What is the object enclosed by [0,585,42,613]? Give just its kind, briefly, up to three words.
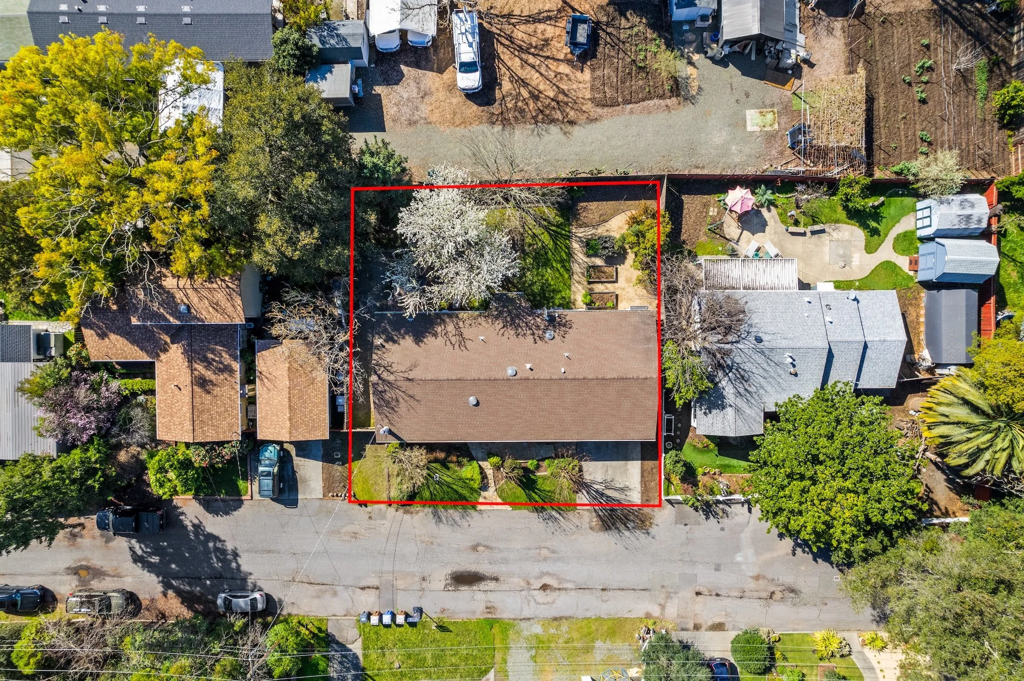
car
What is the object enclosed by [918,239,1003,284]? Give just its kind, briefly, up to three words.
shed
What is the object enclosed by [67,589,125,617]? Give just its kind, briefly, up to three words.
car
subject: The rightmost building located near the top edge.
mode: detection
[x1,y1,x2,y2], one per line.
[717,0,805,53]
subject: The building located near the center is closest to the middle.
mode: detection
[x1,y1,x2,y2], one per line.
[373,292,660,442]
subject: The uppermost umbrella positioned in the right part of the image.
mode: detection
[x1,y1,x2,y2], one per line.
[703,184,755,232]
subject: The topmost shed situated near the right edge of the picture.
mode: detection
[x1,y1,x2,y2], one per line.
[916,196,991,241]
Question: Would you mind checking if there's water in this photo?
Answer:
No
